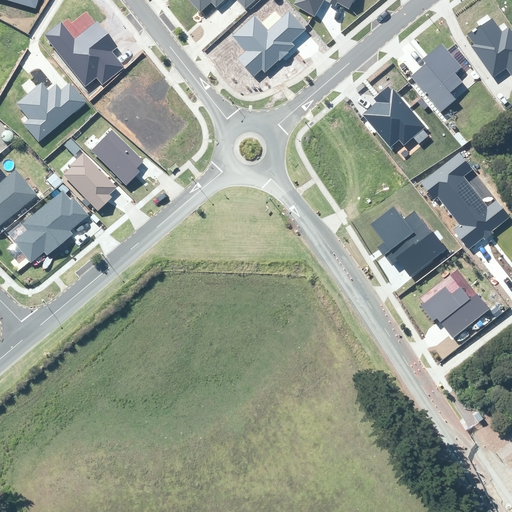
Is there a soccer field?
No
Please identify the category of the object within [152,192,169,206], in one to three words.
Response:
vehicle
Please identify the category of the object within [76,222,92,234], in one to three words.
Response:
vehicle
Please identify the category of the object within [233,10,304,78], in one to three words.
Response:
house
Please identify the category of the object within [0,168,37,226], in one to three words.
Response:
house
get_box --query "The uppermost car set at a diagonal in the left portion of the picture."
[117,49,132,63]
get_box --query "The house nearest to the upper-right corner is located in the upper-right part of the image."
[468,18,512,76]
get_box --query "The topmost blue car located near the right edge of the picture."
[478,244,490,260]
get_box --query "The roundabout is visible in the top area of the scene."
[216,114,284,183]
